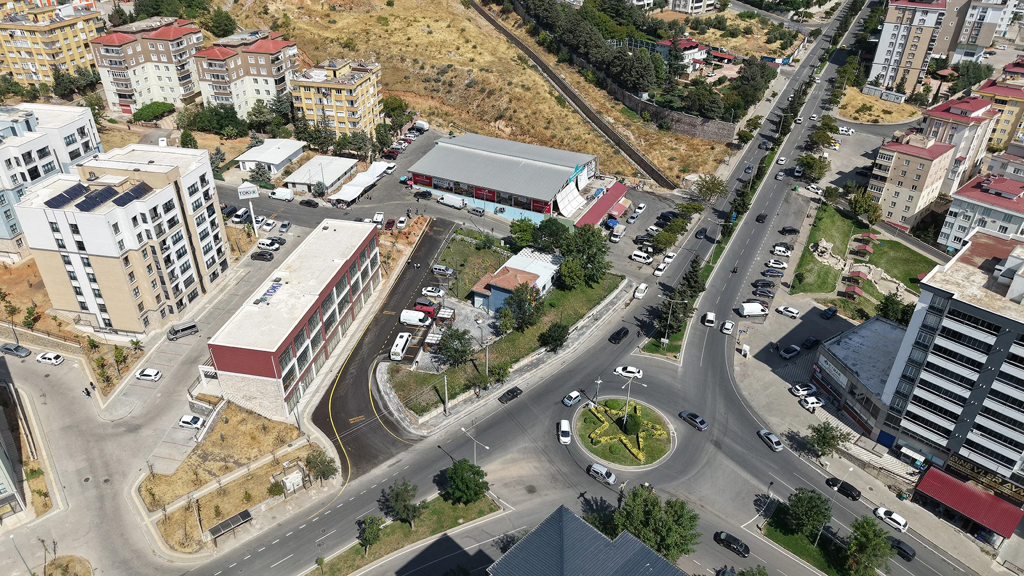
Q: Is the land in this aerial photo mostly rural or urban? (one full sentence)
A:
From above, the setting appears urban.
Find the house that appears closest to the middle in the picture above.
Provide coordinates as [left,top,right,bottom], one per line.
[470,247,568,305]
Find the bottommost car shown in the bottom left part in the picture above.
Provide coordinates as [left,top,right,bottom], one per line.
[175,414,207,430]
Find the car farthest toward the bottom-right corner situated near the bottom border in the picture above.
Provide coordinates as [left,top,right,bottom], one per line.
[891,535,924,567]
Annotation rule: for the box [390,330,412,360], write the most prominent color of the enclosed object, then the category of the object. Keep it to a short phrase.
white vehicle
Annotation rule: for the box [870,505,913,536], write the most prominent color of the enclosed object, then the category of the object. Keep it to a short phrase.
white car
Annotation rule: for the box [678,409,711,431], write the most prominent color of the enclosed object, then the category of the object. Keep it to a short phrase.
gray car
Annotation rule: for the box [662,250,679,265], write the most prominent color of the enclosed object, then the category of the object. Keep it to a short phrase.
white vehicle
